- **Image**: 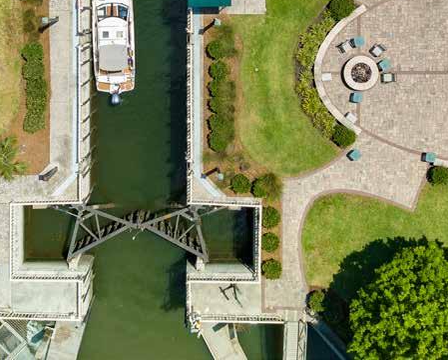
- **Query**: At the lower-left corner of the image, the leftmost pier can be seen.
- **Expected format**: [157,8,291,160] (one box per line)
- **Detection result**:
[45,320,84,360]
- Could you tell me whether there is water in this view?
Yes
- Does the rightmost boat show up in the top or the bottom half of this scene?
top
